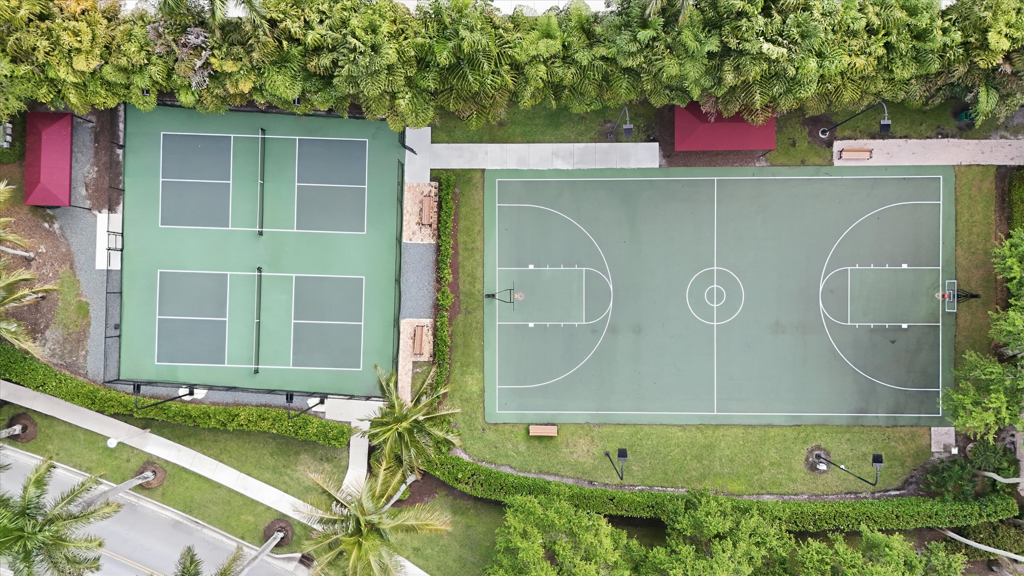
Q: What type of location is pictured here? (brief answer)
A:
sports ground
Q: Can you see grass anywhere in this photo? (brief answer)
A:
Yes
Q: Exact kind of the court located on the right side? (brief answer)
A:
basketball court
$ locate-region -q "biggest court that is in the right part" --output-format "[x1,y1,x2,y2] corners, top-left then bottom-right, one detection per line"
[484,165,956,425]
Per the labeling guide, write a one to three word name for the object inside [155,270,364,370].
sports court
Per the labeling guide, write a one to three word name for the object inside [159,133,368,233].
sports court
